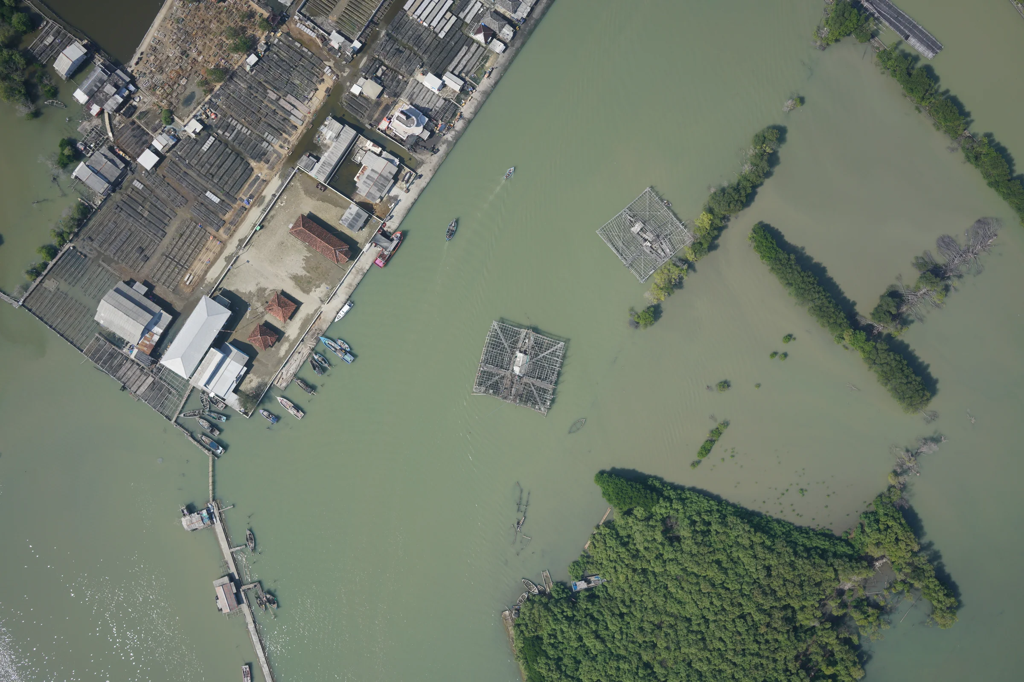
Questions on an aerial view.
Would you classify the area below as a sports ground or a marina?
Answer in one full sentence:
It's a marina.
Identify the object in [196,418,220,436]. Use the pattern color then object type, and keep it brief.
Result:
gray boat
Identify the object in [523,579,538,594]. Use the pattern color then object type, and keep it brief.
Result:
gray boat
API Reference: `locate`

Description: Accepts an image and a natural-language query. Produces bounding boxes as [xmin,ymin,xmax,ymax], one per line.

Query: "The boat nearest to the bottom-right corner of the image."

[572,578,606,591]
